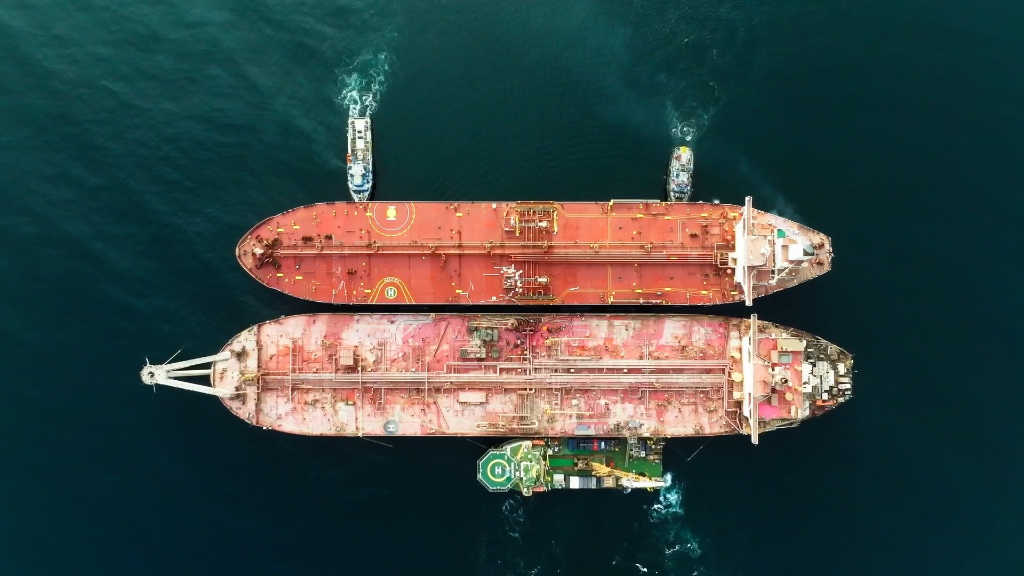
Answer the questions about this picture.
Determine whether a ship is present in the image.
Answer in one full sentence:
Yes, a ship appears in the view.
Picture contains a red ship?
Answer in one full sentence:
Yes, a red ship appears in the view.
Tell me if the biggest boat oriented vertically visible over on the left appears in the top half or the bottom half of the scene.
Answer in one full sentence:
It is in the top half that the biggest boat oriented vertically visible over on the left appears.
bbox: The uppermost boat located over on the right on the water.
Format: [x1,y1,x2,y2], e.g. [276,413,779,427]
[663,146,694,202]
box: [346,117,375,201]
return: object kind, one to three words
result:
boat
